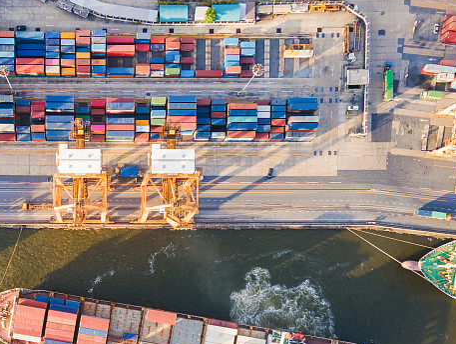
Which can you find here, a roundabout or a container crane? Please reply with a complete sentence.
The one in the frame is a container crane.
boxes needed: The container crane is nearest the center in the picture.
[129,120,205,231]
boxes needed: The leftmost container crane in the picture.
[48,119,117,231]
